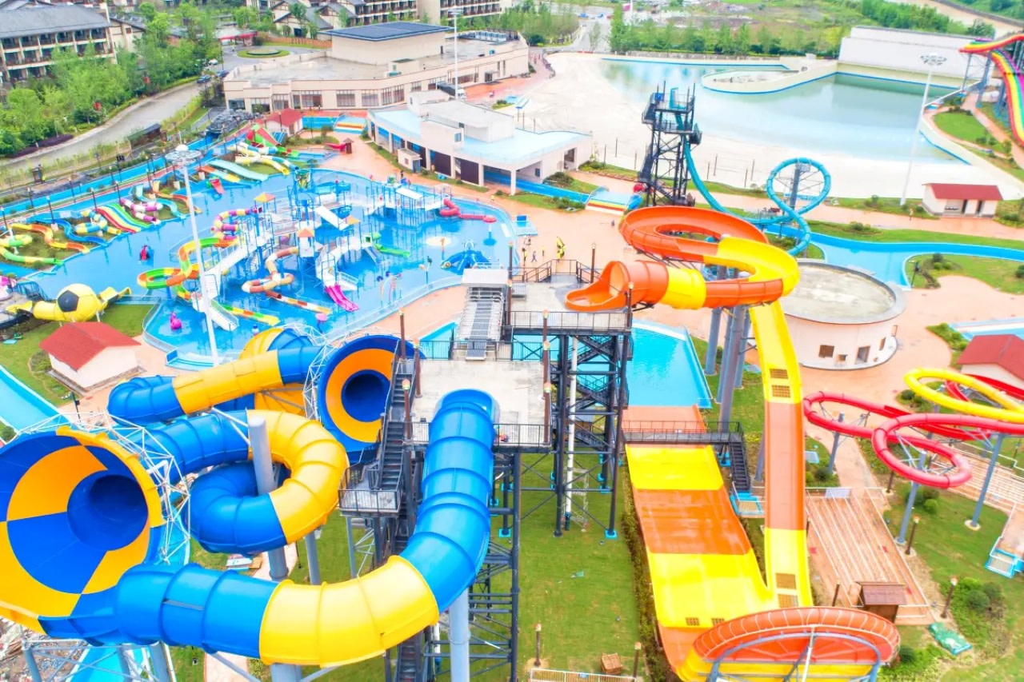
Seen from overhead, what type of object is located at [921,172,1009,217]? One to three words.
shed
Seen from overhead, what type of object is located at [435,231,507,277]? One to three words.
fountain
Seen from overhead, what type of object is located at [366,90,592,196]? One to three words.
house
